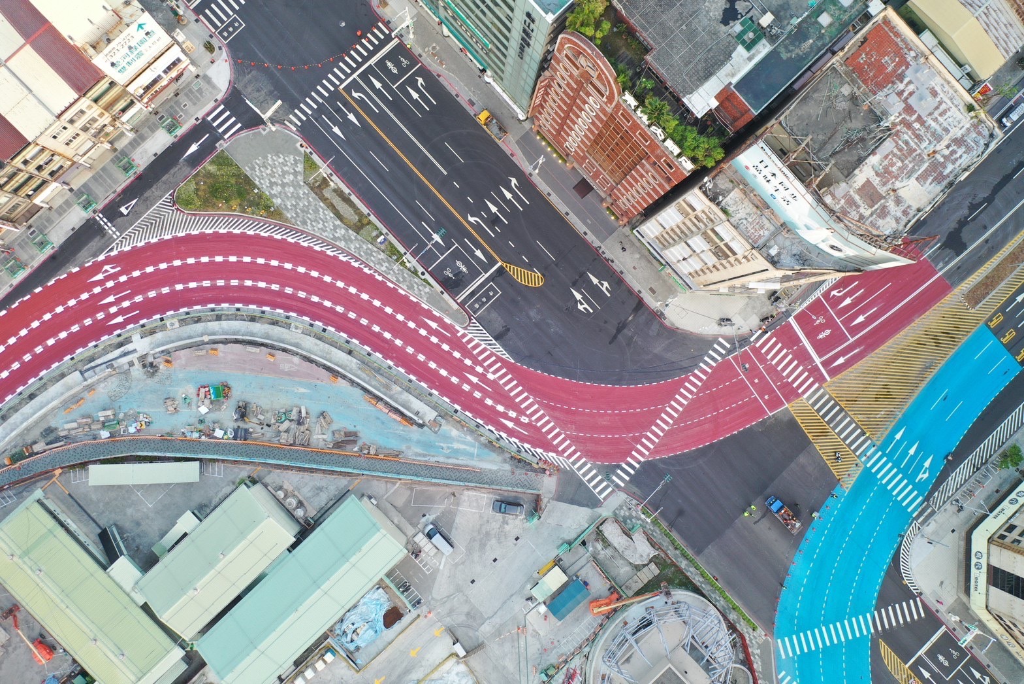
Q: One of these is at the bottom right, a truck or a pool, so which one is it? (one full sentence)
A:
You can see a truck at the bottom right.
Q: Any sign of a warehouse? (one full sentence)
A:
Yes, a warehouse can be made out from above.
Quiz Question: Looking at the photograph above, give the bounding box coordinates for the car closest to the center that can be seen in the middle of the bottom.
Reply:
[494,501,526,516]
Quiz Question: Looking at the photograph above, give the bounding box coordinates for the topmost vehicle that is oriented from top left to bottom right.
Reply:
[477,106,508,141]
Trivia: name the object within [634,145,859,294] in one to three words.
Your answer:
building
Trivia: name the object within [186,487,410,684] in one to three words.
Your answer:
warehouse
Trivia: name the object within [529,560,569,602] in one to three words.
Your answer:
building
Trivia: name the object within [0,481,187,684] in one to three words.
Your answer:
warehouse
